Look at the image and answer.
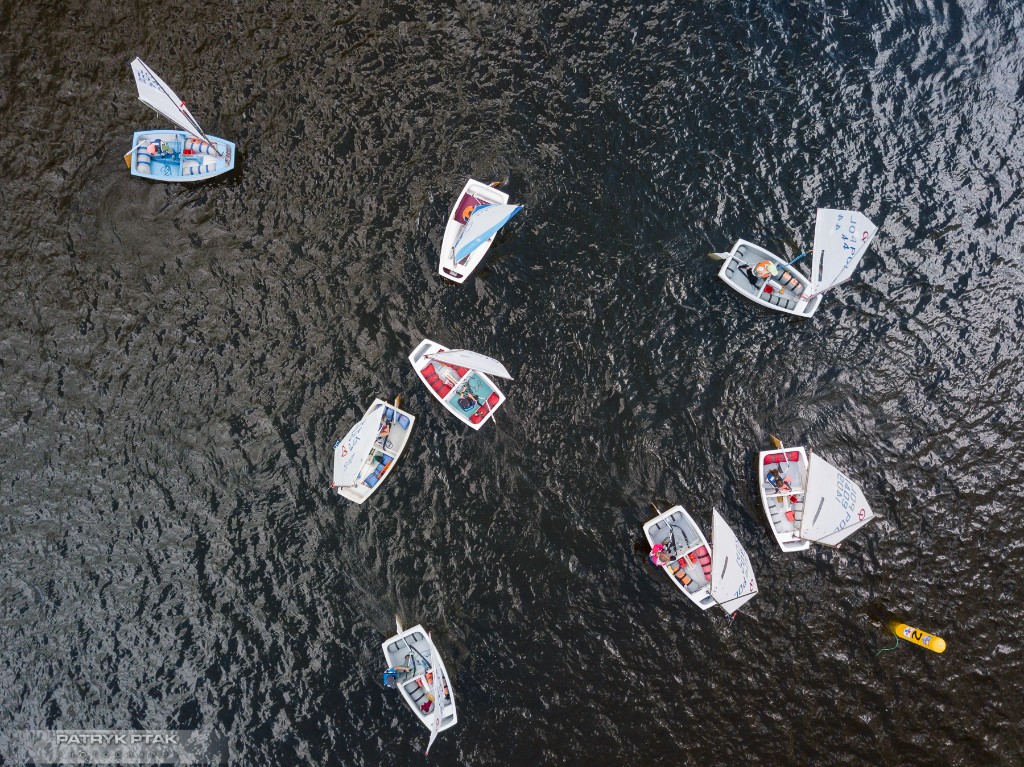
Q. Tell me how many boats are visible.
8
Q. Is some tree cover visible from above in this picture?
No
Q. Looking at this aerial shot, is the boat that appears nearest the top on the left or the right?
left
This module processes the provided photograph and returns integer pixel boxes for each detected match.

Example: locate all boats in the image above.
[438,179,527,284]
[644,502,759,622]
[383,617,456,757]
[759,436,875,551]
[124,56,235,181]
[330,395,414,503]
[408,339,518,430]
[711,204,879,318]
